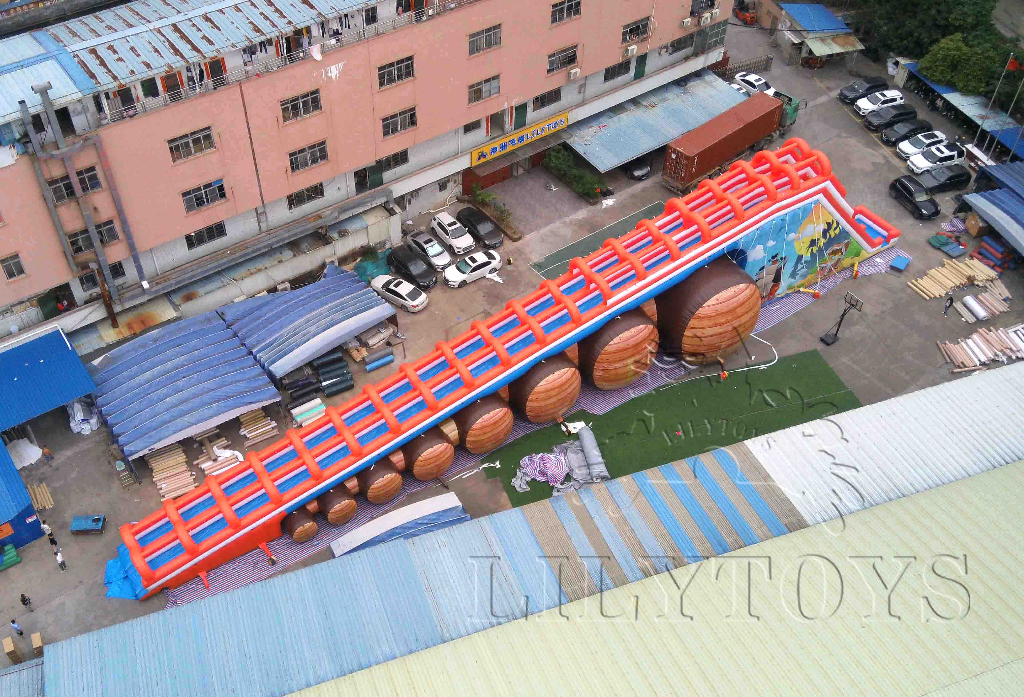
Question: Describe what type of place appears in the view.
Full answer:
The picture captures an industrial area.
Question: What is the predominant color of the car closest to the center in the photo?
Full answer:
The car closest to the center is white.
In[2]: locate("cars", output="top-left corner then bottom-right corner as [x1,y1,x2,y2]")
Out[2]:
[400,227,451,273]
[382,241,437,292]
[840,72,890,105]
[914,161,972,194]
[618,155,650,181]
[424,209,475,258]
[441,249,506,288]
[736,69,781,96]
[453,205,504,251]
[856,85,909,117]
[368,277,433,319]
[886,176,941,219]
[897,128,951,163]
[866,99,919,132]
[881,117,935,147]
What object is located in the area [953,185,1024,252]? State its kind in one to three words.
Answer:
tent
